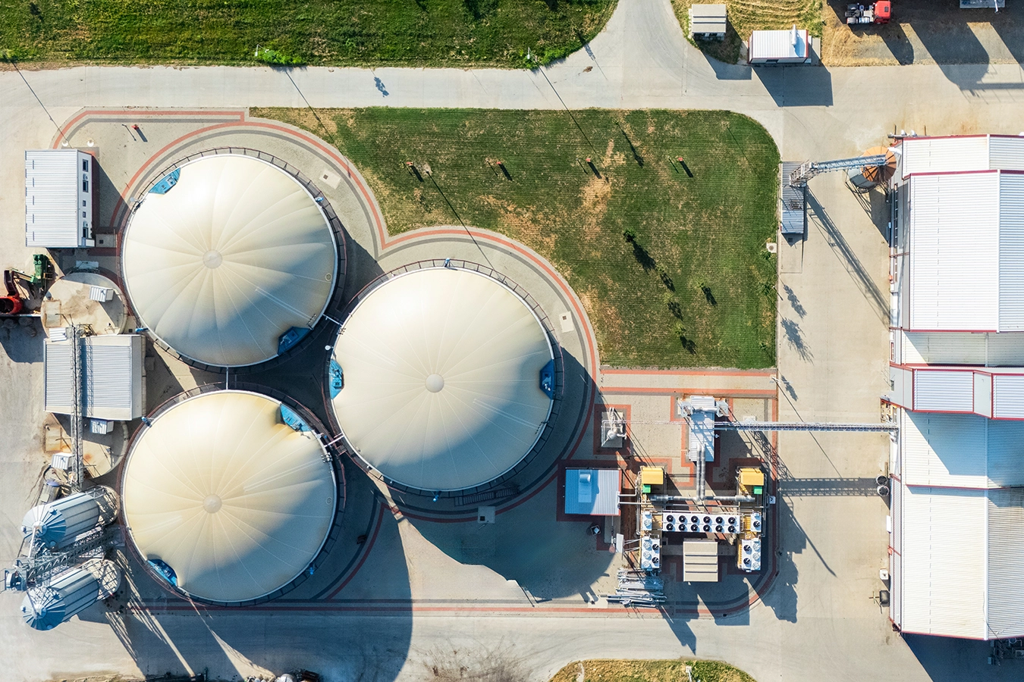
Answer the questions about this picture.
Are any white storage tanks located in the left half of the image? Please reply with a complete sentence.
Yes, a white storage tank can be seen in the left half of the image.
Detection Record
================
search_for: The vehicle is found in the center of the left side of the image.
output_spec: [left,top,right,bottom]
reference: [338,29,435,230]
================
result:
[9,253,48,292]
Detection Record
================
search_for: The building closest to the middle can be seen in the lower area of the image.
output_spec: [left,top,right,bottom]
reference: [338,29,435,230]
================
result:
[565,466,621,516]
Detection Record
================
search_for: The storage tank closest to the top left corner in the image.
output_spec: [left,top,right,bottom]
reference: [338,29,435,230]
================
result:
[116,146,349,375]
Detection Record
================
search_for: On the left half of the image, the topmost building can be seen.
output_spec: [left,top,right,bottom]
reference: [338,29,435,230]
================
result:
[25,150,98,248]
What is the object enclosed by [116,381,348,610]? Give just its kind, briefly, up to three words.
storage tank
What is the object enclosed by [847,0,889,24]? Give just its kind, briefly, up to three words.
truck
